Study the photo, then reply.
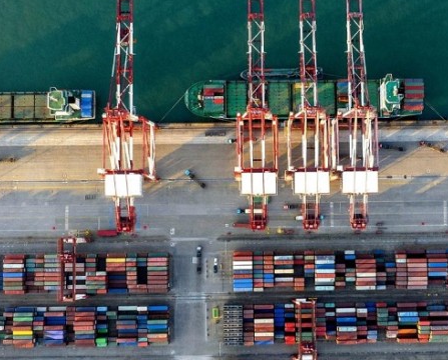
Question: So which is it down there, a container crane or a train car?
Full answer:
Looking from above, you can make out a container crane.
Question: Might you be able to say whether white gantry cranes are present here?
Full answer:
Yes, the picture does show a white gantry crane.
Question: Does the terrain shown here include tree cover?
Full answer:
No, there's no tree cover in this view.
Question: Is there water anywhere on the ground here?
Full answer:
Yes, there's water in this view.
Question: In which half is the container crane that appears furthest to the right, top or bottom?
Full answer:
It is in the top half that the container crane that appears furthest to the right appears.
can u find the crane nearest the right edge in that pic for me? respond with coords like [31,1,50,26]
[325,0,379,231]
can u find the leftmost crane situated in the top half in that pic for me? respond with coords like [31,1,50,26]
[93,0,161,233]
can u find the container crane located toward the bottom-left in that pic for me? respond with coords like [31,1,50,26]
[59,237,91,303]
